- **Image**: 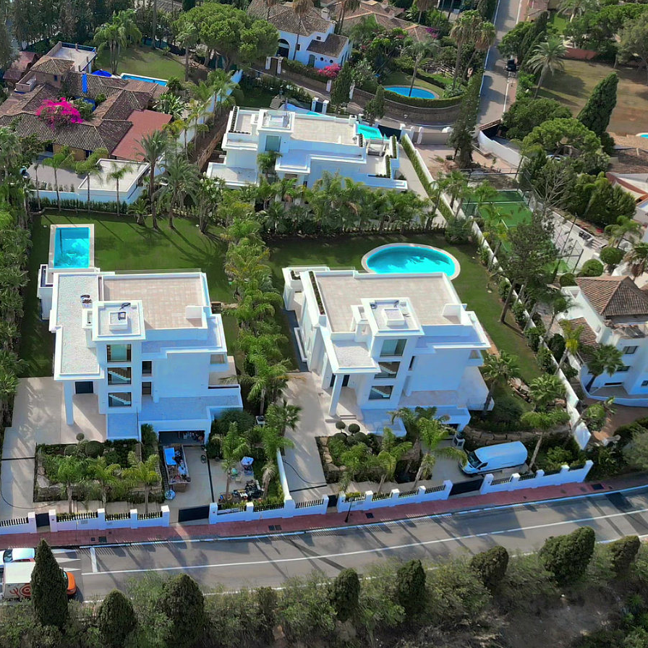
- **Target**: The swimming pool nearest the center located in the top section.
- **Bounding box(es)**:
[360,240,461,273]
